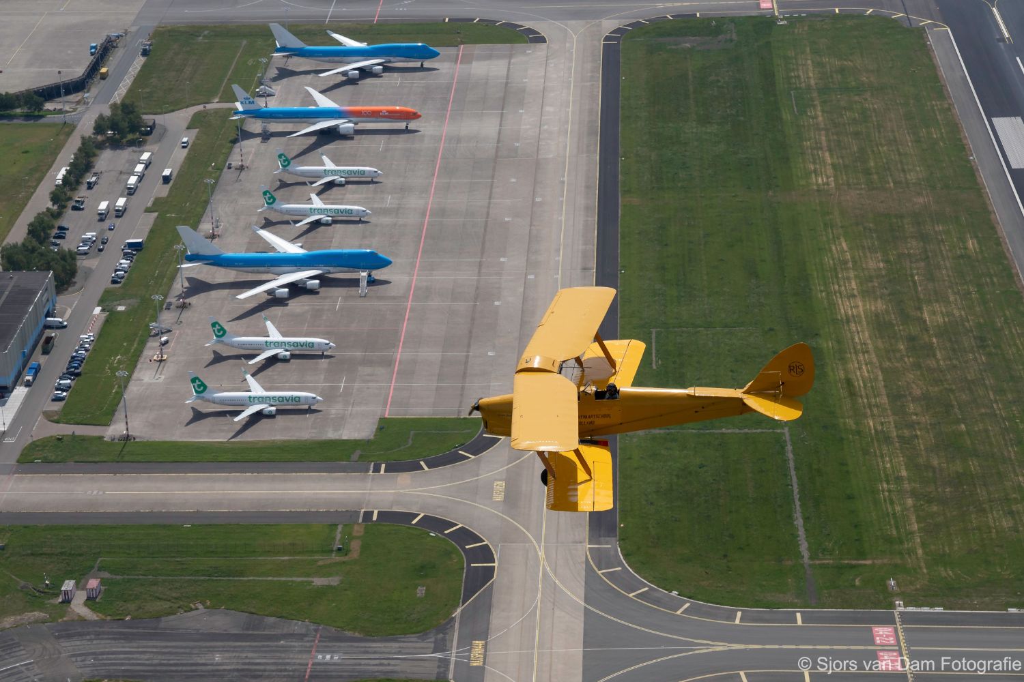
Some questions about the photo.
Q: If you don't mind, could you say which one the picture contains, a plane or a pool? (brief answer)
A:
plane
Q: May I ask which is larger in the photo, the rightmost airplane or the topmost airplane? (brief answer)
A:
the rightmost airplane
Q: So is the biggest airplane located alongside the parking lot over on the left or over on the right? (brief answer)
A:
left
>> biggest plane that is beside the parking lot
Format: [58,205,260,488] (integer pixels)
[172,224,391,299]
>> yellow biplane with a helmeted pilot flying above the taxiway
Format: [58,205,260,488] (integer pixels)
[470,282,815,511]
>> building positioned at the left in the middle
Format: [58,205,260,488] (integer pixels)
[0,266,56,392]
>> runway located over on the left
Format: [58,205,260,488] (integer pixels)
[0,614,484,682]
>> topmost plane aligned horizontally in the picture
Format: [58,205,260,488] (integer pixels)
[266,23,441,78]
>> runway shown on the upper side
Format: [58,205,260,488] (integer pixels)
[938,0,1024,211]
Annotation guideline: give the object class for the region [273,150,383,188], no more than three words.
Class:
airplane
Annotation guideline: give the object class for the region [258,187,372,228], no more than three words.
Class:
airplane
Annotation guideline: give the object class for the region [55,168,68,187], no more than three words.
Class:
vehicle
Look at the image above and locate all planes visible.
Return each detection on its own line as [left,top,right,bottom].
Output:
[273,150,383,188]
[227,84,423,138]
[206,315,336,365]
[266,23,441,78]
[470,282,815,511]
[258,187,372,228]
[172,224,391,299]
[186,367,323,422]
